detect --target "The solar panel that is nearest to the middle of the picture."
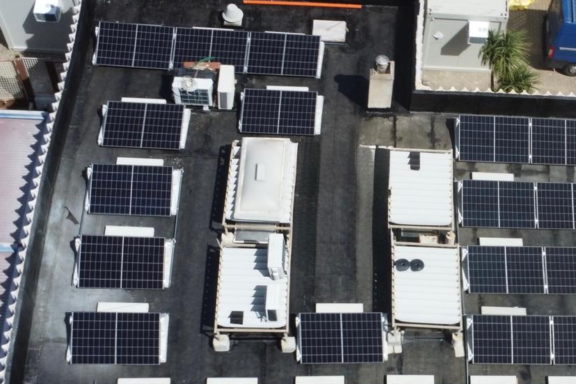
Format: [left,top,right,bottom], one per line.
[241,87,317,136]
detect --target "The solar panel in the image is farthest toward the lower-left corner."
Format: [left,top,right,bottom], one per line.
[71,312,161,366]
